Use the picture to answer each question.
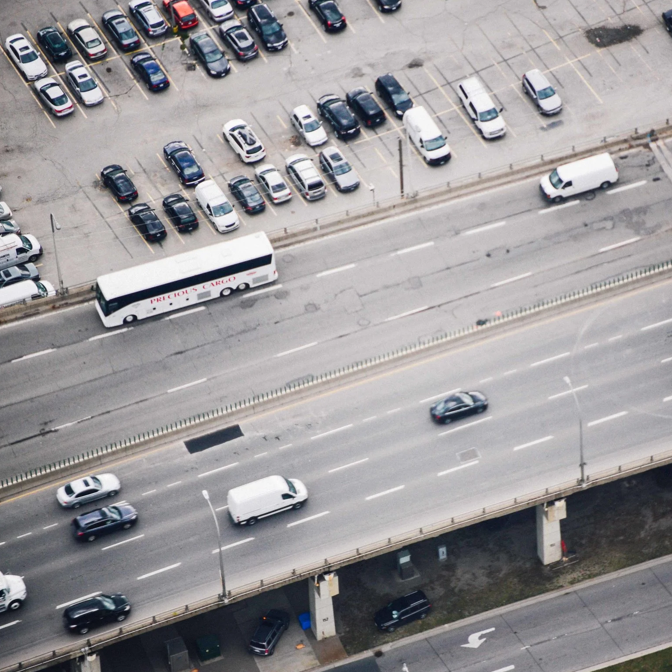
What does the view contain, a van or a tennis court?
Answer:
van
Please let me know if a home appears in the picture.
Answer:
No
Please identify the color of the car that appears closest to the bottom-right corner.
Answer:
black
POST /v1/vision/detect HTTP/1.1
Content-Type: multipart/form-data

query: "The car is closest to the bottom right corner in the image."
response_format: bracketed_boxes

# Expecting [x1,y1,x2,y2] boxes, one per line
[373,590,433,634]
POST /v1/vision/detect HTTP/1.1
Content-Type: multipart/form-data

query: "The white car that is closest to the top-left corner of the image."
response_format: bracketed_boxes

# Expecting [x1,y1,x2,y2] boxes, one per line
[6,34,47,79]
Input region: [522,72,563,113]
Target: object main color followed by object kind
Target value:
white car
